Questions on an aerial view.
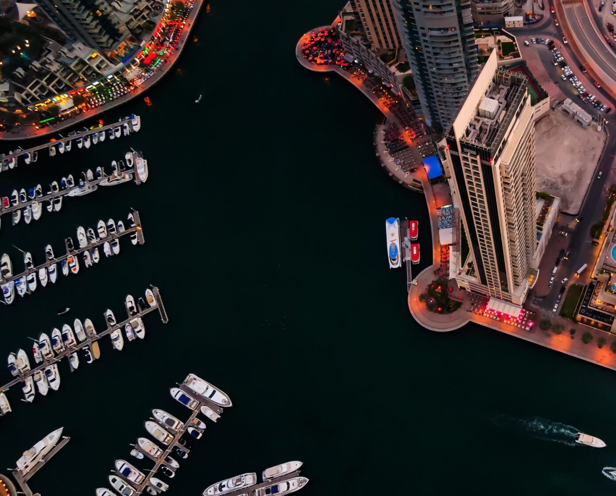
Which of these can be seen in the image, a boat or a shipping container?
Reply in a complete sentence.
The one in the frame is a boat.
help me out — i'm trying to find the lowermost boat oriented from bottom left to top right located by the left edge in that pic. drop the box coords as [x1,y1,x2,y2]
[13,426,63,474]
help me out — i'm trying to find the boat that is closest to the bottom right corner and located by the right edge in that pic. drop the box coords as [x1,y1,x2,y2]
[575,434,605,446]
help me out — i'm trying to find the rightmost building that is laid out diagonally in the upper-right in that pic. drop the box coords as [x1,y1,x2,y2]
[563,97,594,127]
